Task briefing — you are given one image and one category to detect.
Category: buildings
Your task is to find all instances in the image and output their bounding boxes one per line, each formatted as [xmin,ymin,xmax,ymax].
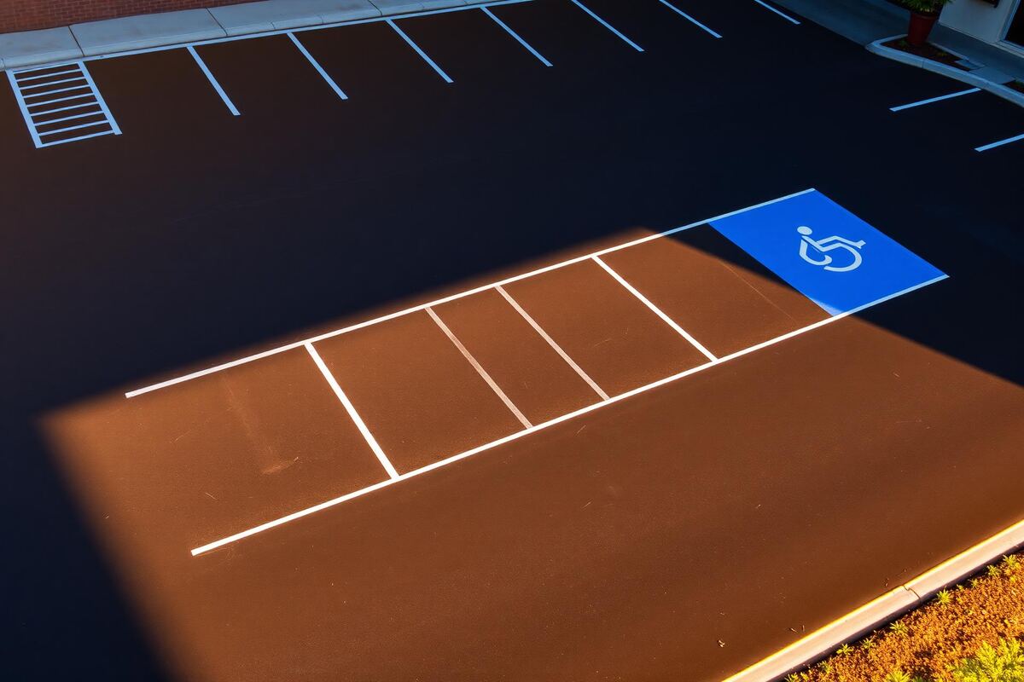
[937,0,1024,58]
[0,0,258,35]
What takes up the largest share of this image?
paved ground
